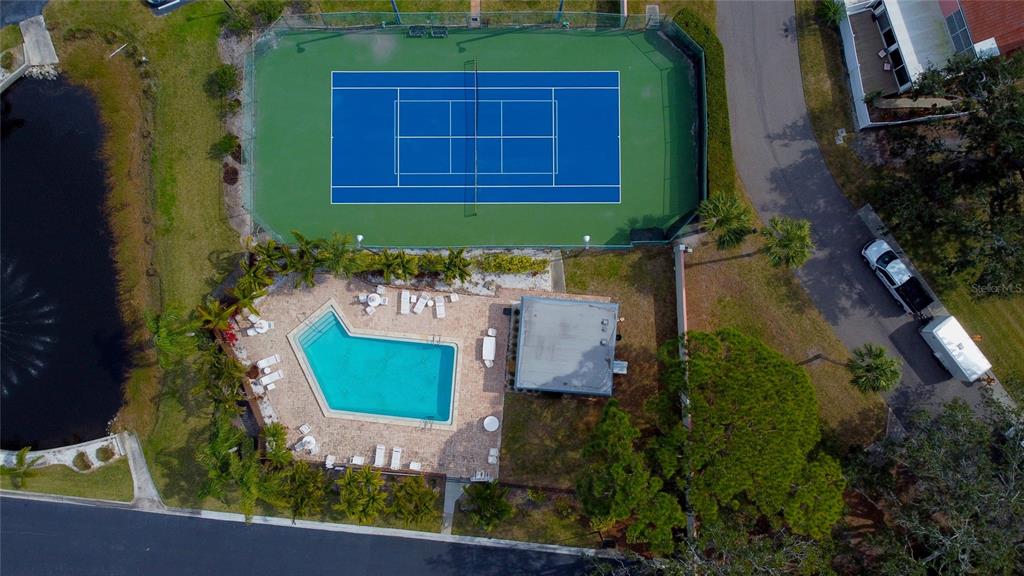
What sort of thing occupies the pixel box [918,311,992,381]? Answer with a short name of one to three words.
trailer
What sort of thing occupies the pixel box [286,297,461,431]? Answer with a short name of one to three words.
swimming pool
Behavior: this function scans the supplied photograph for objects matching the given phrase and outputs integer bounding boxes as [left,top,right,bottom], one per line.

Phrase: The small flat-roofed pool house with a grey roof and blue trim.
[505,296,629,399]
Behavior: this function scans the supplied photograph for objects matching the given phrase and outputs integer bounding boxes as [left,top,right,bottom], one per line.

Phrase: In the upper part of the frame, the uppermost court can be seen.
[256,30,697,247]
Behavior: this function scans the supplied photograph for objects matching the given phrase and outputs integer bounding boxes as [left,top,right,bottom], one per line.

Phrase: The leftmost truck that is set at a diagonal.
[863,241,934,314]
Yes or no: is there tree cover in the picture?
Yes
